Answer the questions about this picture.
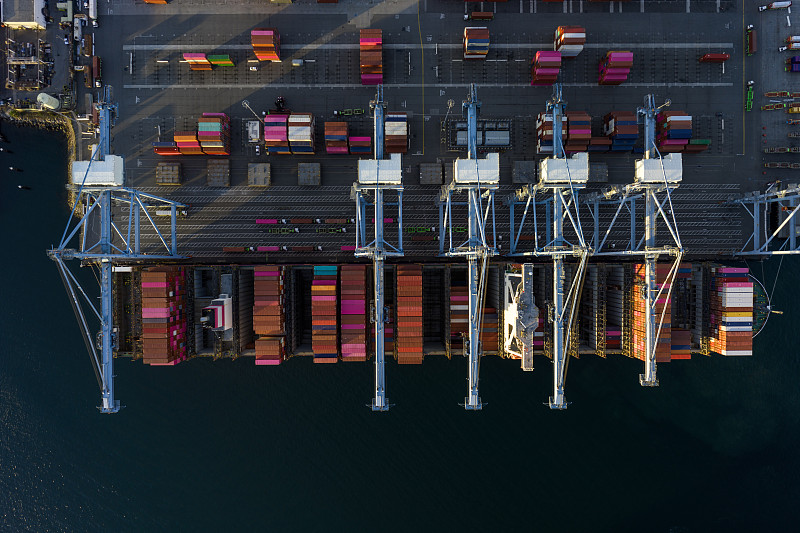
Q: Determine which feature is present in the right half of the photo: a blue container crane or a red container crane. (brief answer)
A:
blue container crane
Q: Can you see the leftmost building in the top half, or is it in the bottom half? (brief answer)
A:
top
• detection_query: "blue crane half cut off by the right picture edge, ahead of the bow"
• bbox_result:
[734,187,800,262]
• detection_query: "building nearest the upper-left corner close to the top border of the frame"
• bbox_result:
[1,0,57,31]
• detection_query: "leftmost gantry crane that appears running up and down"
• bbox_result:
[54,81,189,412]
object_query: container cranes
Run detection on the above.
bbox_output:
[345,81,409,412]
[501,81,588,412]
[734,187,800,262]
[433,81,497,412]
[54,81,189,412]
[578,81,697,388]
